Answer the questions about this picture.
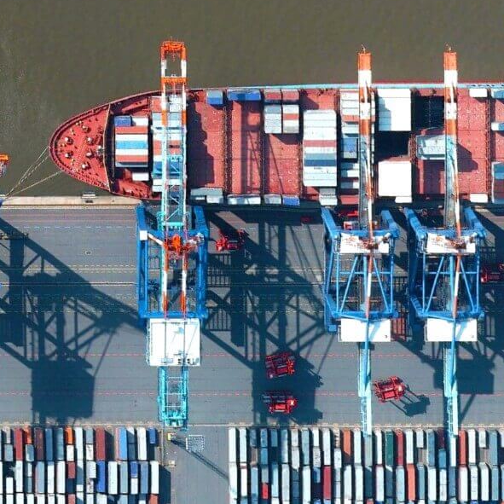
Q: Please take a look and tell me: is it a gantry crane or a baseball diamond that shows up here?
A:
gantry crane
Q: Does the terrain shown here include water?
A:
Yes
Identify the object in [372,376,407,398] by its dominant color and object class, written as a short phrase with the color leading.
red work vehicle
